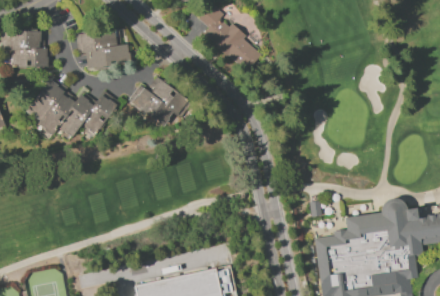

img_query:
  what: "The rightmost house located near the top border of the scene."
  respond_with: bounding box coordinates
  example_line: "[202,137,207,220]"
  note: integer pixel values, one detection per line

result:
[198,6,264,64]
